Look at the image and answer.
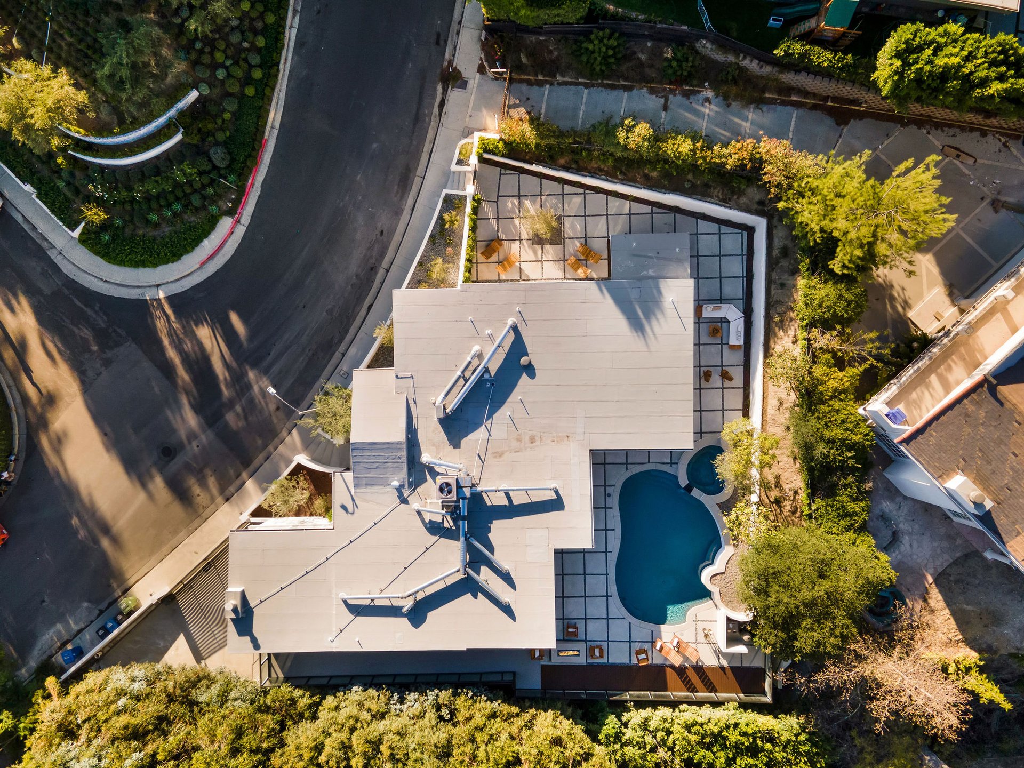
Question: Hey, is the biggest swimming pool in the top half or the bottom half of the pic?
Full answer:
You can find the biggest swimming pool in the bottom half.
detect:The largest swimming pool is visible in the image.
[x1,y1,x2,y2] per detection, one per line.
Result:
[610,464,721,631]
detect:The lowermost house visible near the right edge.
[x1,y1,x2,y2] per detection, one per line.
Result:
[847,232,1024,589]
